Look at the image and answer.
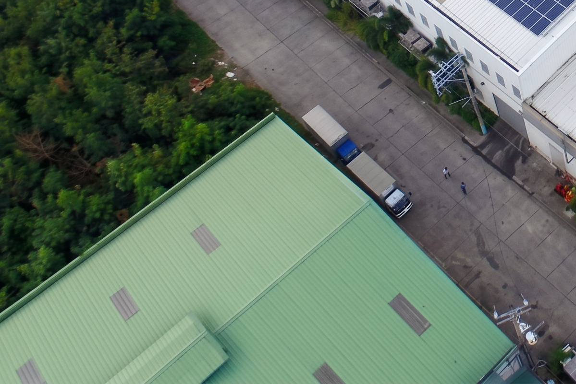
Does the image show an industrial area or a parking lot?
industrial area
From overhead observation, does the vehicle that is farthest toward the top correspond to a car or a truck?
truck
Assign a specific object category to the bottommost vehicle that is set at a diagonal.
truck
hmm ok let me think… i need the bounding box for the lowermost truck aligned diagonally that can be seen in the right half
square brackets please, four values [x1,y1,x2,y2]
[347,151,415,222]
